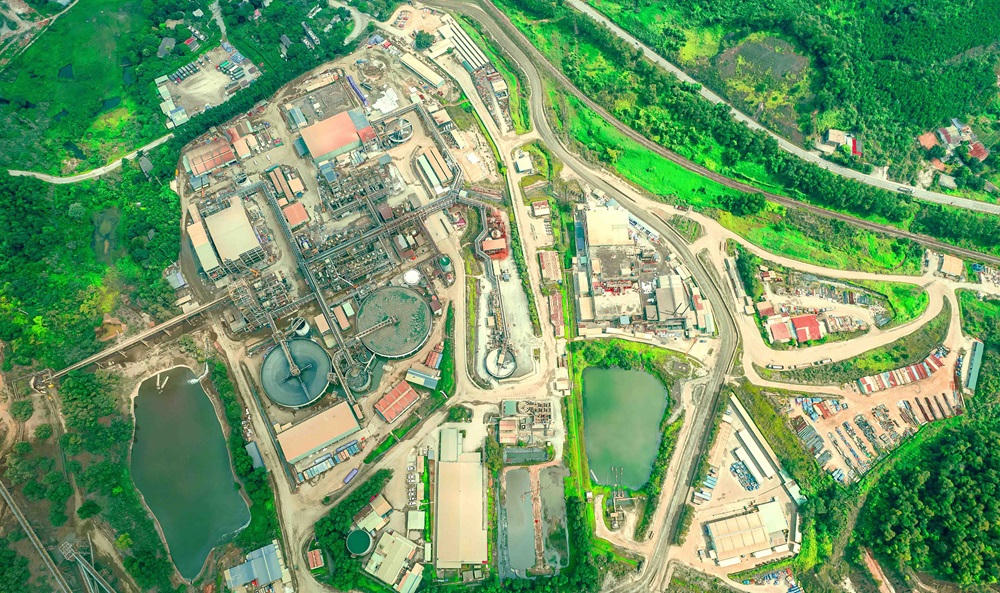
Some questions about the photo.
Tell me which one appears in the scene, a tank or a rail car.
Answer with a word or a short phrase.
tank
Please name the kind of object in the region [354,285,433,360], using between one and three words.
storage tank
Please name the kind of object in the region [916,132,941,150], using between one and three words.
house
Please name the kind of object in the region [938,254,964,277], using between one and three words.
building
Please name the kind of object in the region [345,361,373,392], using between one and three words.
storage tank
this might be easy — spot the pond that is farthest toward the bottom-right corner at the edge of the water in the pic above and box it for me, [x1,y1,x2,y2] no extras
[582,366,669,490]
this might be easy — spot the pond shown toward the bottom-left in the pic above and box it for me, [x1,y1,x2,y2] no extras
[131,366,252,581]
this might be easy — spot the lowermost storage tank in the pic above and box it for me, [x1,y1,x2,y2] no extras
[346,528,374,557]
